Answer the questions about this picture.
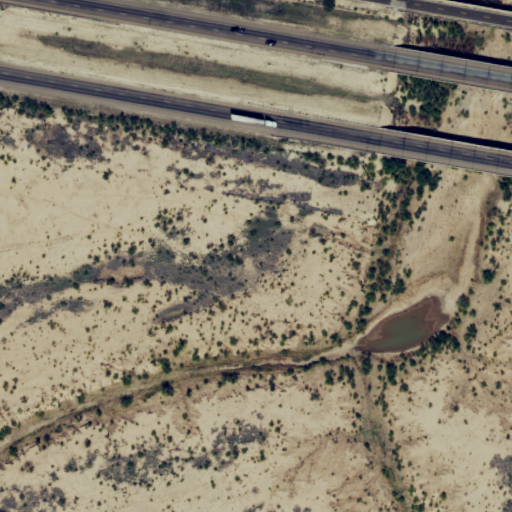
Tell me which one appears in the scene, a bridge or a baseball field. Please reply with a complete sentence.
This aerial view contains a bridge.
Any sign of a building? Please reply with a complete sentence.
No, the photo shows no building.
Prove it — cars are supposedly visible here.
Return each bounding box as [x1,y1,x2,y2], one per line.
[230,27,240,32]
[266,40,276,46]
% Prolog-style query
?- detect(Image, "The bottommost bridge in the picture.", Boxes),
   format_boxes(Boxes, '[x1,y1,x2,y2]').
[379,128,512,178]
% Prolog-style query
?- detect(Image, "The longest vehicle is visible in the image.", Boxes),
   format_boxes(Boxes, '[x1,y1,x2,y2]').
[230,114,276,126]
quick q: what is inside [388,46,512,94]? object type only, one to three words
bridge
